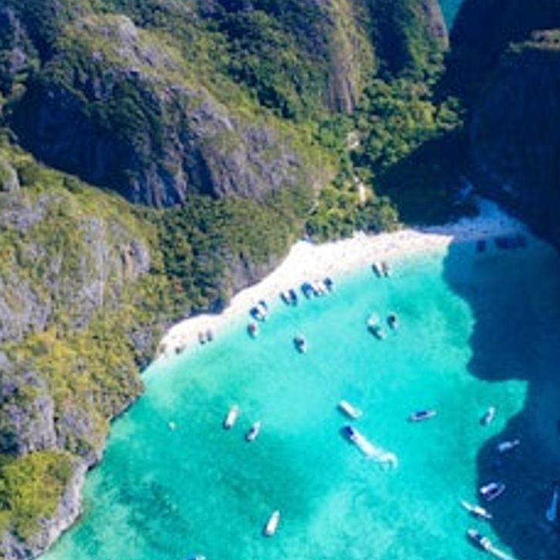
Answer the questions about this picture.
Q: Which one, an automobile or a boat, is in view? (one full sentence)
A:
Visible in the photo is a boat.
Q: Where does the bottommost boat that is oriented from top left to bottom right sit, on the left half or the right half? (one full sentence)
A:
The bottommost boat that is oriented from top left to bottom right is on the right side of the image.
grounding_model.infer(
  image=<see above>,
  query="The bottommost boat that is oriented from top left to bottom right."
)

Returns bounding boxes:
[468,526,492,548]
